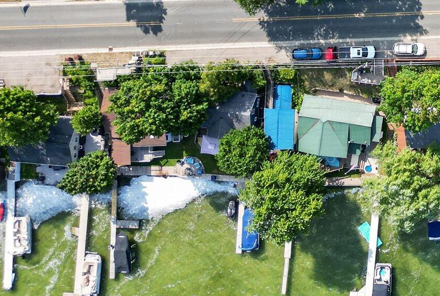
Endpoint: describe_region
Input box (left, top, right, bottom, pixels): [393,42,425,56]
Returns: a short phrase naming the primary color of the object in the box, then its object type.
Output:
white vehicle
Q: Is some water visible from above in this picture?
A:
Yes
